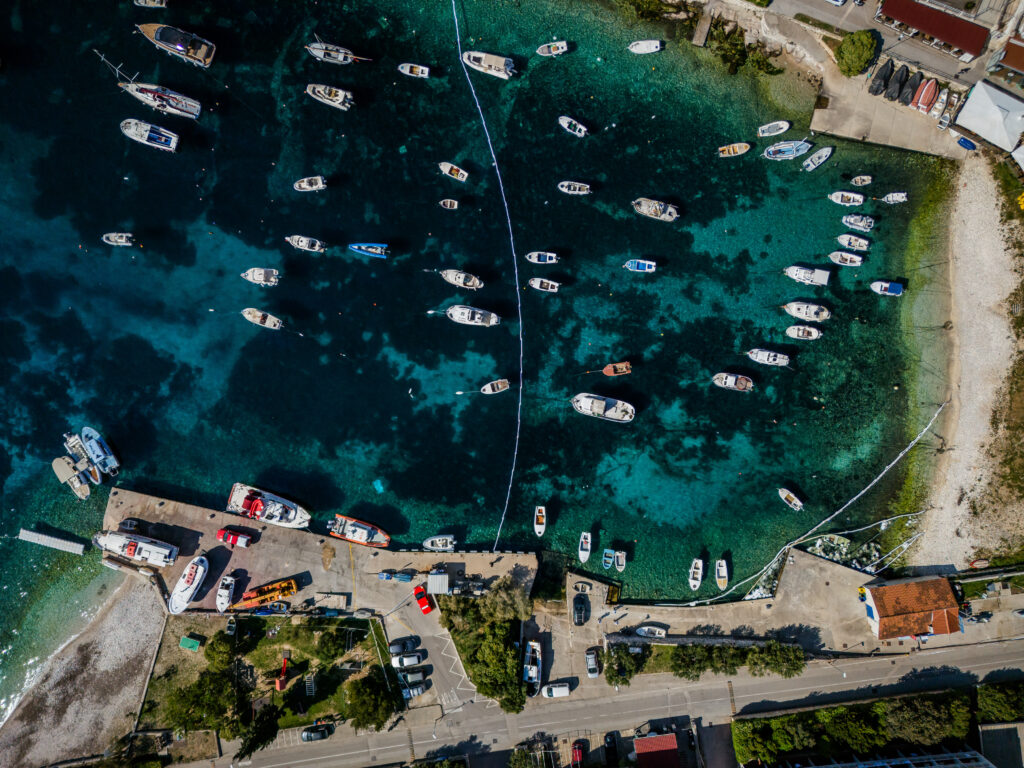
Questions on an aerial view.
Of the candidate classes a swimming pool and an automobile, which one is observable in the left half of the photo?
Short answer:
automobile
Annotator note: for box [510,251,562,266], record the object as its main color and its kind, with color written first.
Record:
white boat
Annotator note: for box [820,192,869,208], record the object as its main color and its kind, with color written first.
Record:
white boat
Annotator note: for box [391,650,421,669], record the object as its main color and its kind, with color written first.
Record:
white car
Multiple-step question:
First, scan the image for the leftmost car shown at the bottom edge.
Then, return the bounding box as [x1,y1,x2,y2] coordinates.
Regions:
[301,722,331,742]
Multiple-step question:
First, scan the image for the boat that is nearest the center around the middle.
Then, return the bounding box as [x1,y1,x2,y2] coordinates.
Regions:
[481,377,510,393]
